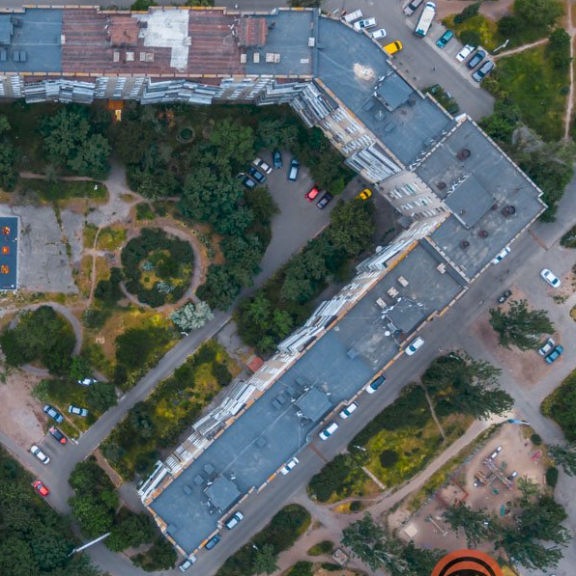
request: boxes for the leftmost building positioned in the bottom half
[136,215,467,557]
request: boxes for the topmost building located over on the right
[292,10,455,182]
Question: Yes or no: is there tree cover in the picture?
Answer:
Yes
